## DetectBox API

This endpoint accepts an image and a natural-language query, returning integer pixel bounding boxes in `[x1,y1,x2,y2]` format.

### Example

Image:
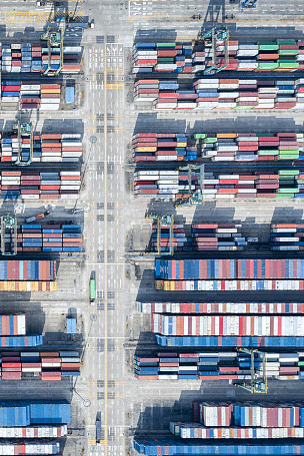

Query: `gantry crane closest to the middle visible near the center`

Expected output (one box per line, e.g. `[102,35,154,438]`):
[142,212,174,258]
